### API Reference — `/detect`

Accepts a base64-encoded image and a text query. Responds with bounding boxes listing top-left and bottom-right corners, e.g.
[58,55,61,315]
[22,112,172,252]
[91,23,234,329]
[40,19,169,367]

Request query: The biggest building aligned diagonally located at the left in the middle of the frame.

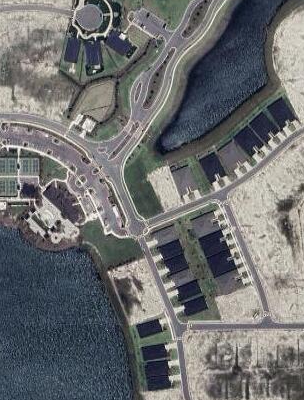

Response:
[43,180,83,220]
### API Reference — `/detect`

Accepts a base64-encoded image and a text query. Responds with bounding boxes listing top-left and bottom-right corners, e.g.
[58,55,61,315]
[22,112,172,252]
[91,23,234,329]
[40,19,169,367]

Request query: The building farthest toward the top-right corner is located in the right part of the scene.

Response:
[268,98,297,129]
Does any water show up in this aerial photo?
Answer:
Yes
